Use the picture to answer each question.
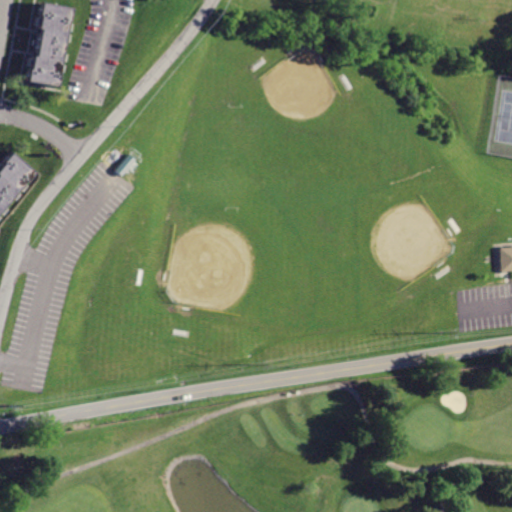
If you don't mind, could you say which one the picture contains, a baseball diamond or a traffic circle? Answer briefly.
baseball diamond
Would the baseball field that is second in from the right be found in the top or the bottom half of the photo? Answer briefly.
top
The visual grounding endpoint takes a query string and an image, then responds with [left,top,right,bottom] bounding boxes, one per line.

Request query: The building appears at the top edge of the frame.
[30,2,76,88]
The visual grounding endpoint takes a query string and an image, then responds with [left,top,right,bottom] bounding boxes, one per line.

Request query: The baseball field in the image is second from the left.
[260,50,341,120]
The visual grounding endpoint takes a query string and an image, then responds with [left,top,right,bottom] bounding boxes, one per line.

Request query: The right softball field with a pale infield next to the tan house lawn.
[370,196,456,290]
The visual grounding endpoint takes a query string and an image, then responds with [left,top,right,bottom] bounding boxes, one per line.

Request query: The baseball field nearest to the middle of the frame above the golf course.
[165,223,253,316]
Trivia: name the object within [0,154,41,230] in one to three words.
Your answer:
building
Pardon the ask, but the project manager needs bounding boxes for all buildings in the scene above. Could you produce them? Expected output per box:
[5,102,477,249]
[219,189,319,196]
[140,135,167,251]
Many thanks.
[0,154,41,230]
[501,248,512,272]
[116,156,138,179]
[30,2,76,88]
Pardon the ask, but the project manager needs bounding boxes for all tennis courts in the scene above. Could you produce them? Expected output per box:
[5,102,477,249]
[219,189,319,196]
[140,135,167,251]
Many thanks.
[486,76,512,158]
